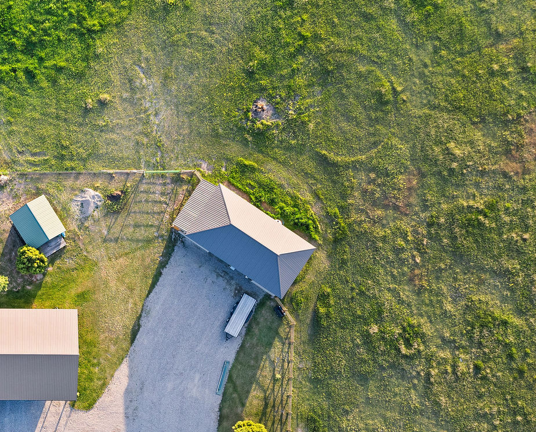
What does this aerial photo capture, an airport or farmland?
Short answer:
farmland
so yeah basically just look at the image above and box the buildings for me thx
[173,180,317,300]
[0,307,78,401]
[10,195,66,247]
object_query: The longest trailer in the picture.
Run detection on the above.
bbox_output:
[224,293,256,343]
